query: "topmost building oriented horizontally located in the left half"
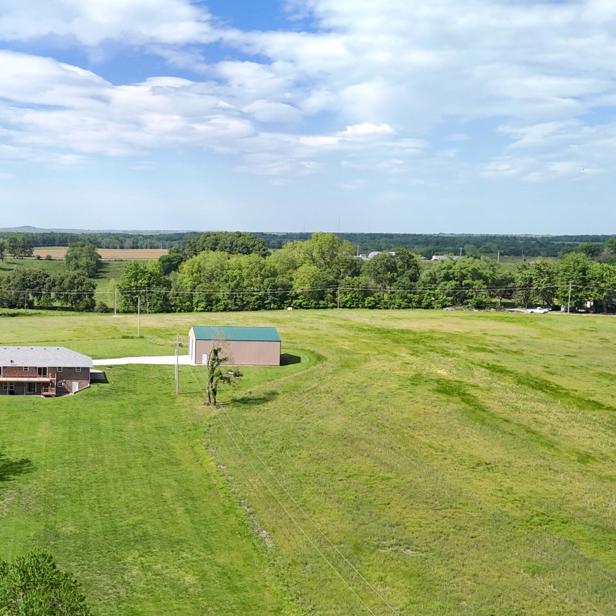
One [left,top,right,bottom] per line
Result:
[189,325,280,365]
